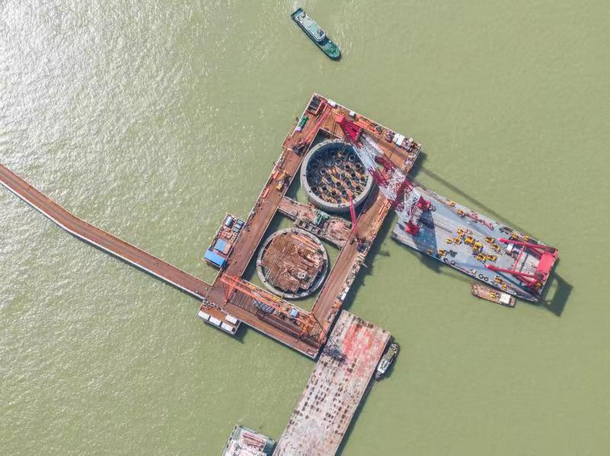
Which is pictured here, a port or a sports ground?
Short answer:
port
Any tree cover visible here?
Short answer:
No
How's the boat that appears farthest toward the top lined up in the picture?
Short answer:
at an angle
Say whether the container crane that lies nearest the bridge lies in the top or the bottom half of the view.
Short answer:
bottom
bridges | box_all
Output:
[0,163,212,300]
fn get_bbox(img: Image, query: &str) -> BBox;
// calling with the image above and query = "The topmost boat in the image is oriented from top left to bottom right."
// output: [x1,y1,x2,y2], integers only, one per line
[291,7,340,57]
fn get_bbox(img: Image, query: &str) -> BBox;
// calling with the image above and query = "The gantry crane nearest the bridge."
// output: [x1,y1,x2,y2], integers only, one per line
[223,274,322,344]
